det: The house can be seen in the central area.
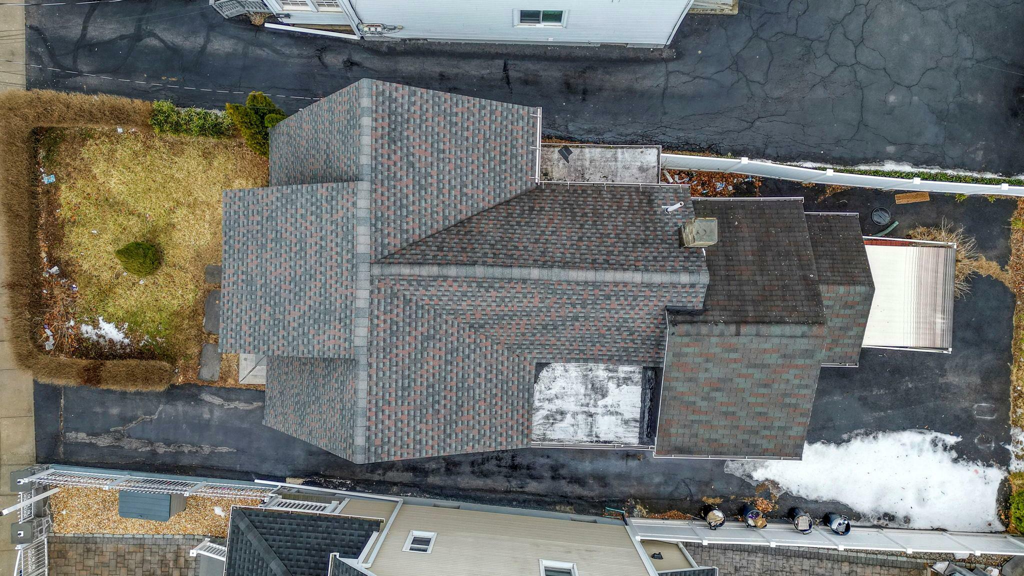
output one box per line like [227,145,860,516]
[218,78,959,465]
